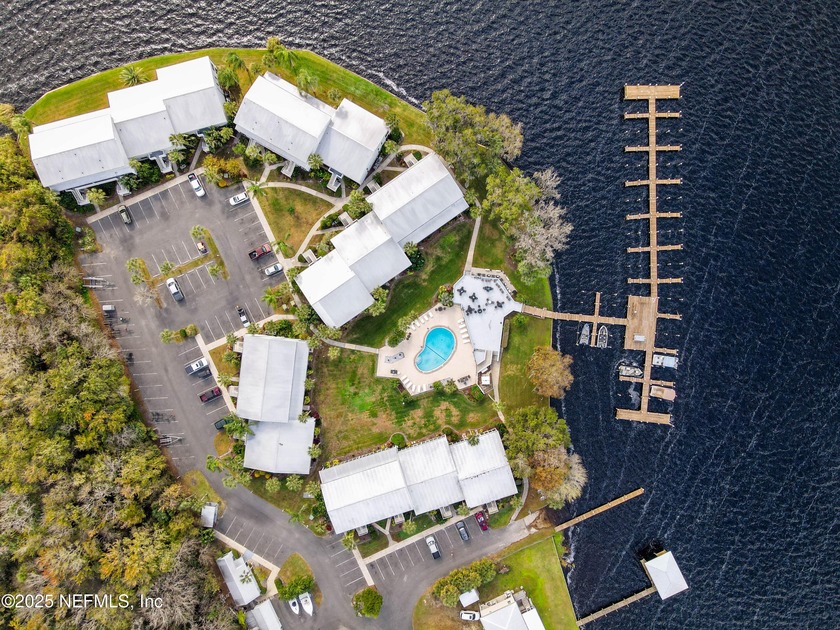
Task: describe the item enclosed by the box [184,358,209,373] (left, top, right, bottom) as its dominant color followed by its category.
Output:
white vehicle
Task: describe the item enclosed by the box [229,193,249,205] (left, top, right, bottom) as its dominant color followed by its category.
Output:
white vehicle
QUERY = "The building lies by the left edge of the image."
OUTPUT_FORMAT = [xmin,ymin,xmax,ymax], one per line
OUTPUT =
[29,57,230,203]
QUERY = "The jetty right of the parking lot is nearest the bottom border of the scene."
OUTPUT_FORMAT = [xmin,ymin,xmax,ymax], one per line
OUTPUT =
[576,583,658,628]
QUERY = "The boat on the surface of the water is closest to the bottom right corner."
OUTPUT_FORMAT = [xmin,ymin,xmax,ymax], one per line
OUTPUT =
[650,386,678,400]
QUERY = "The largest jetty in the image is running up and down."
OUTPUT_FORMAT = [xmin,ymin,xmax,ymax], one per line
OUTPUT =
[523,84,682,426]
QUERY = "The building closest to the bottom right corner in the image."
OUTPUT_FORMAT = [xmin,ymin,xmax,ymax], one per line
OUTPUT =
[638,546,689,600]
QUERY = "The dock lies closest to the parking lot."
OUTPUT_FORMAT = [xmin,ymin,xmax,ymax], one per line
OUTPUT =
[554,488,644,531]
